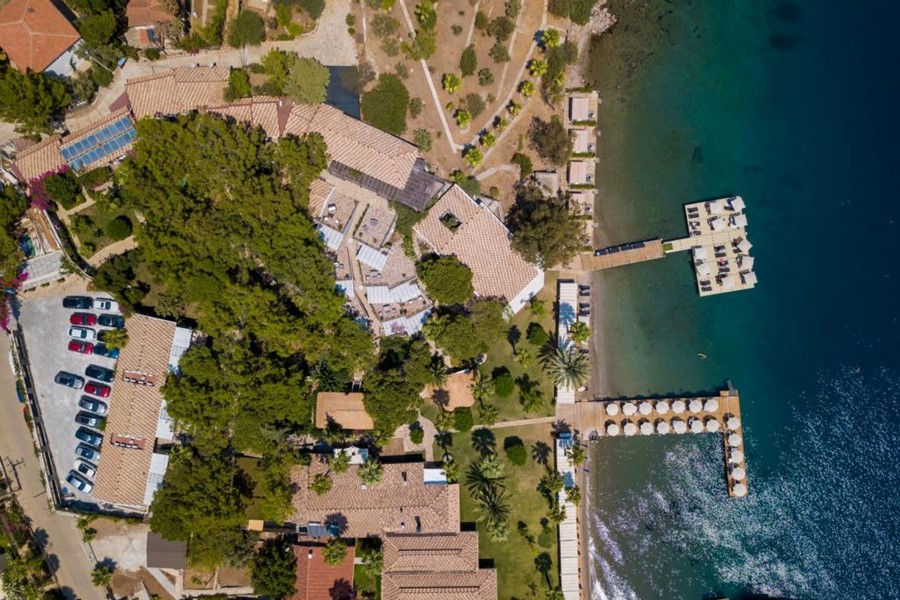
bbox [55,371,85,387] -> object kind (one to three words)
car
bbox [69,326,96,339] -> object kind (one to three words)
vehicle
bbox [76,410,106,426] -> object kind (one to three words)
car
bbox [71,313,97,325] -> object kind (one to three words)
vehicle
